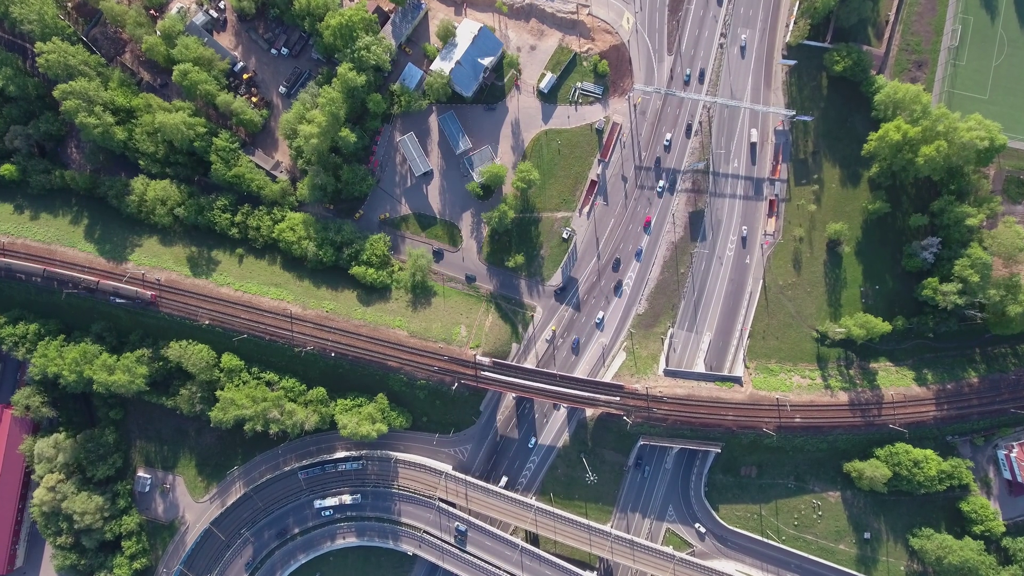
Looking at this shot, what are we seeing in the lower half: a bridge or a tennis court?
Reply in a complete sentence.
The feature located in the lower half is a bridge.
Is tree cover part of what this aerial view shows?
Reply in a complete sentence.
Yes, some tree cover is visible.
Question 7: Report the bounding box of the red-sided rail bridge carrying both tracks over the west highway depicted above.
[459,355,626,417]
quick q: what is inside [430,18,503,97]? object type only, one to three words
house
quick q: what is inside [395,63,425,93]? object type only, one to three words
building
